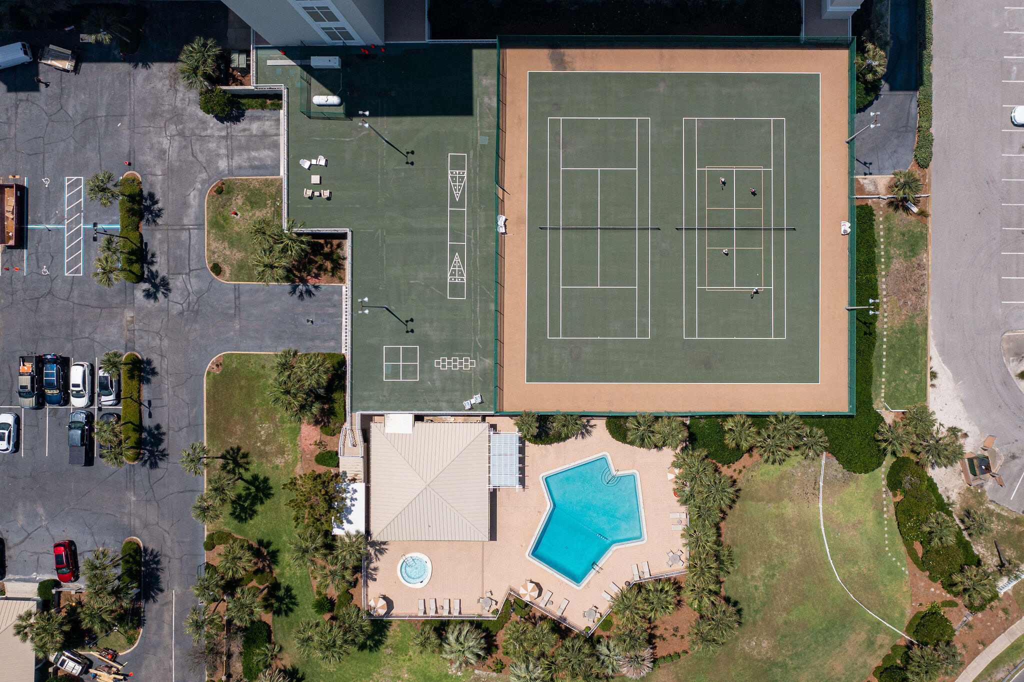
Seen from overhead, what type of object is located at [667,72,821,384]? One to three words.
tennis court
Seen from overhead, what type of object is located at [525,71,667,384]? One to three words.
tennis court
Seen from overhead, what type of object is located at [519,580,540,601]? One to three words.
umbrella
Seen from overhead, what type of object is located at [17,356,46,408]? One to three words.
truck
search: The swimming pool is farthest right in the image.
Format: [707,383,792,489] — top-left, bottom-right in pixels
[527,453,647,588]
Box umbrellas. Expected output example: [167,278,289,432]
[665,464,682,485]
[519,580,540,601]
[368,595,388,616]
